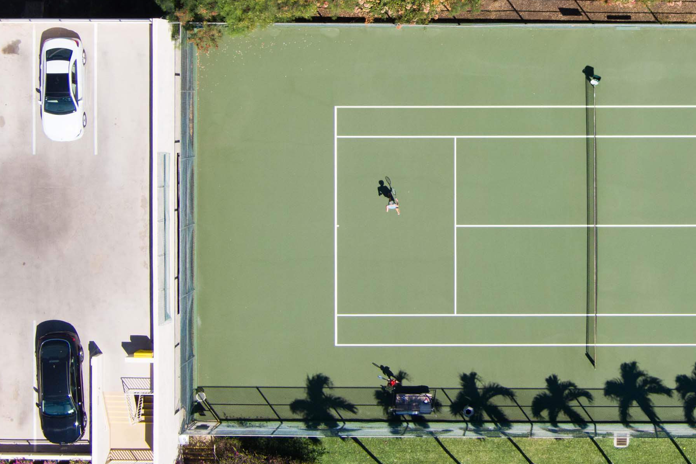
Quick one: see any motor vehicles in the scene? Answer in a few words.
Yes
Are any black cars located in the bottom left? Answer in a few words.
Yes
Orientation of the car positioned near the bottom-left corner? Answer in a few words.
from top to bottom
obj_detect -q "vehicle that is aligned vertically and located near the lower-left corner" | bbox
[29,328,84,441]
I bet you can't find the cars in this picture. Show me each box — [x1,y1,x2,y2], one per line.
[29,328,84,441]
[30,33,85,141]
